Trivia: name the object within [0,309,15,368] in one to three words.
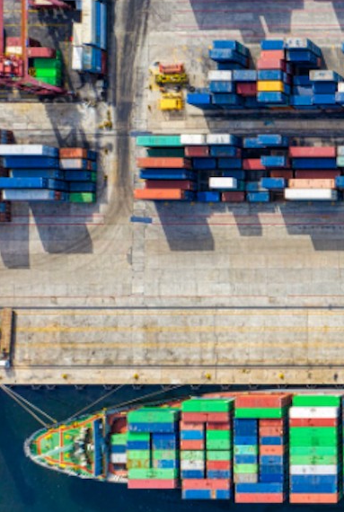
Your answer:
vehicle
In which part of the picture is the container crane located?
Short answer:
top left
